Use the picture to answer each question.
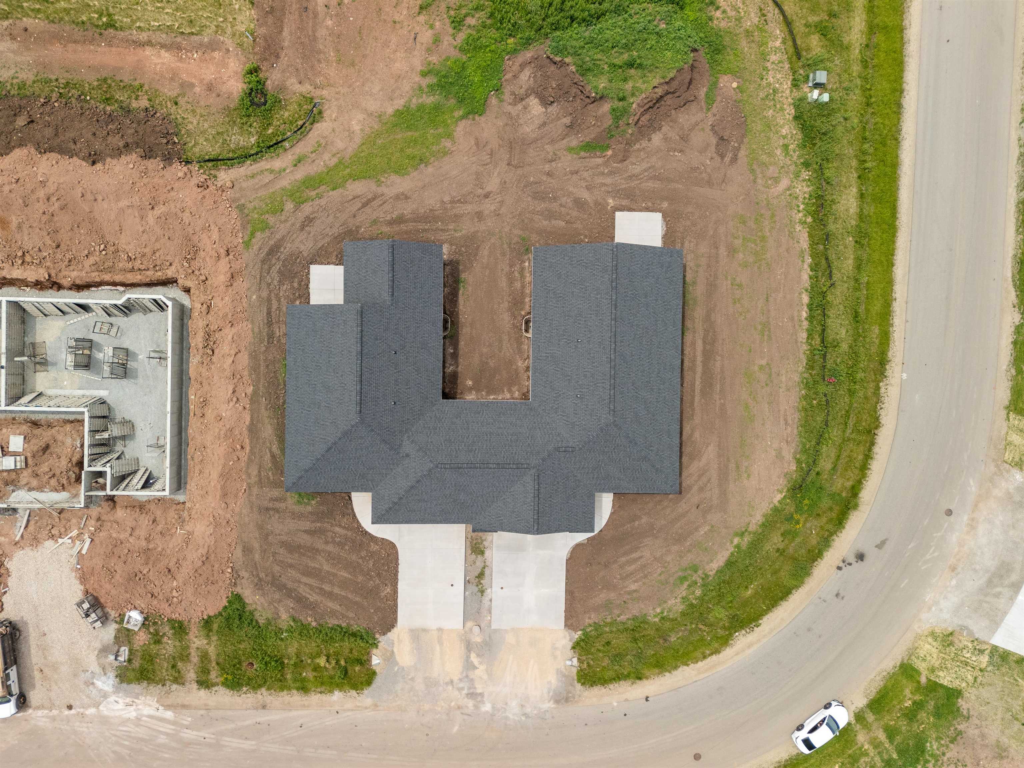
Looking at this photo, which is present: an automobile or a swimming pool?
automobile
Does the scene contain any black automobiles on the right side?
No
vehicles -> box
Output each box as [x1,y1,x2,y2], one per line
[0,613,24,718]
[794,702,850,753]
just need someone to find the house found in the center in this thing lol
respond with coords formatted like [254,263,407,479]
[284,240,683,536]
